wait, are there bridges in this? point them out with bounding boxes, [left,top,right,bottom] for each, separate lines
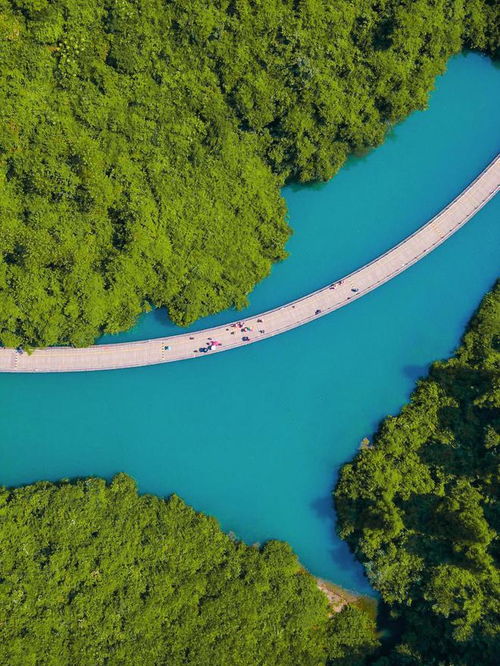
[0,152,500,374]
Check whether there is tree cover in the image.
Yes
